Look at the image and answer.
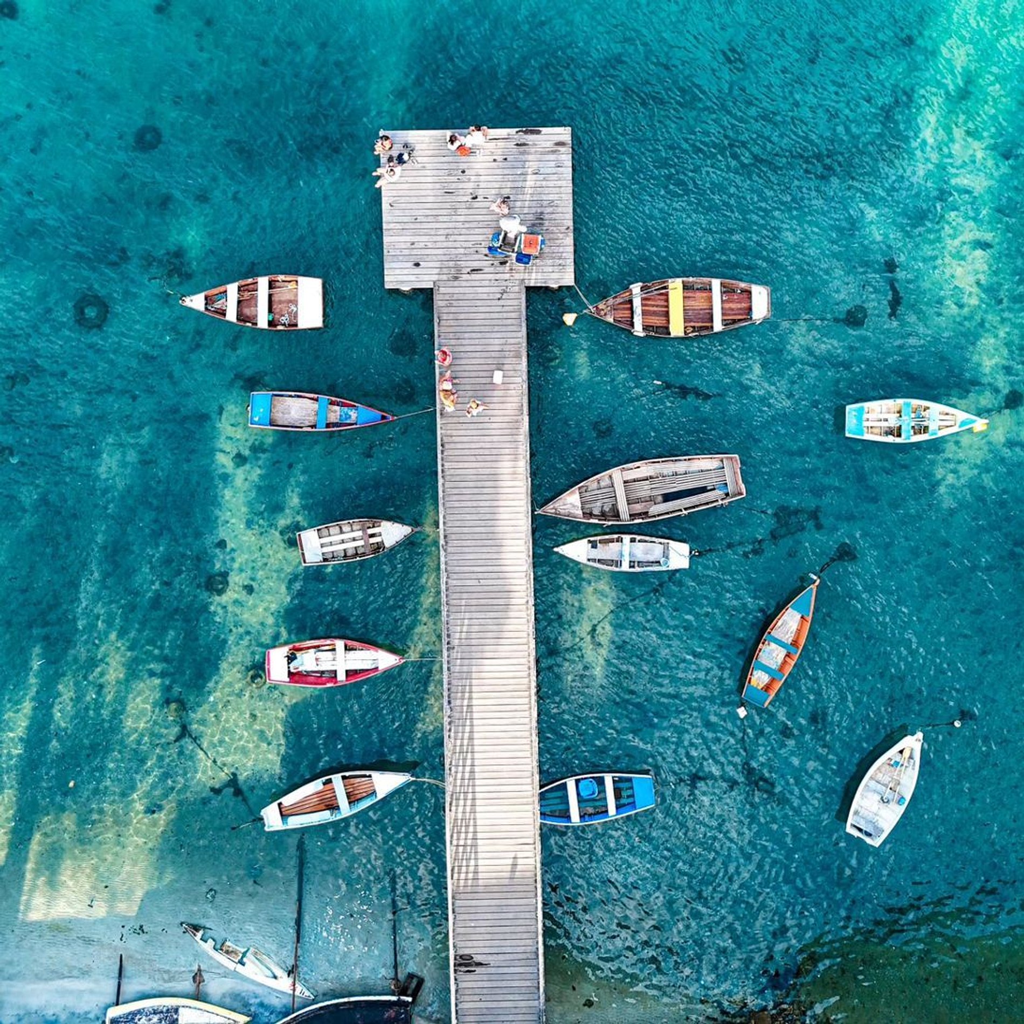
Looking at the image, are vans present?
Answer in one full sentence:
No, no van is visible in the scene.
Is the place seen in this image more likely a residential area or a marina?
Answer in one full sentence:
This looks like a marina.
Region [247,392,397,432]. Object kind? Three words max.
boat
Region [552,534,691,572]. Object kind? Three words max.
boat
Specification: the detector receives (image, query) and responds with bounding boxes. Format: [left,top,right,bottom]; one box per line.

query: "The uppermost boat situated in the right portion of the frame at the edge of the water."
[582,277,773,337]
